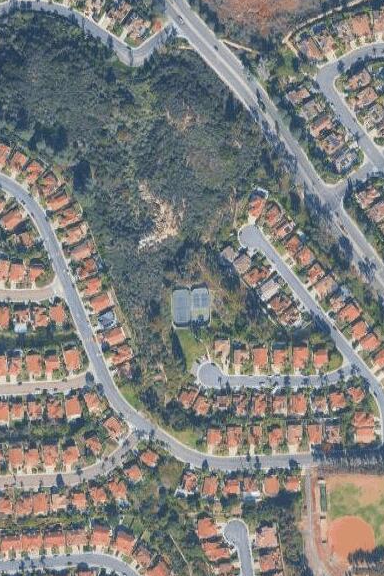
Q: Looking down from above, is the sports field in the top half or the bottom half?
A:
bottom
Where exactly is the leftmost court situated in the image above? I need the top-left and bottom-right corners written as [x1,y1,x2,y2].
[173,289,191,323]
